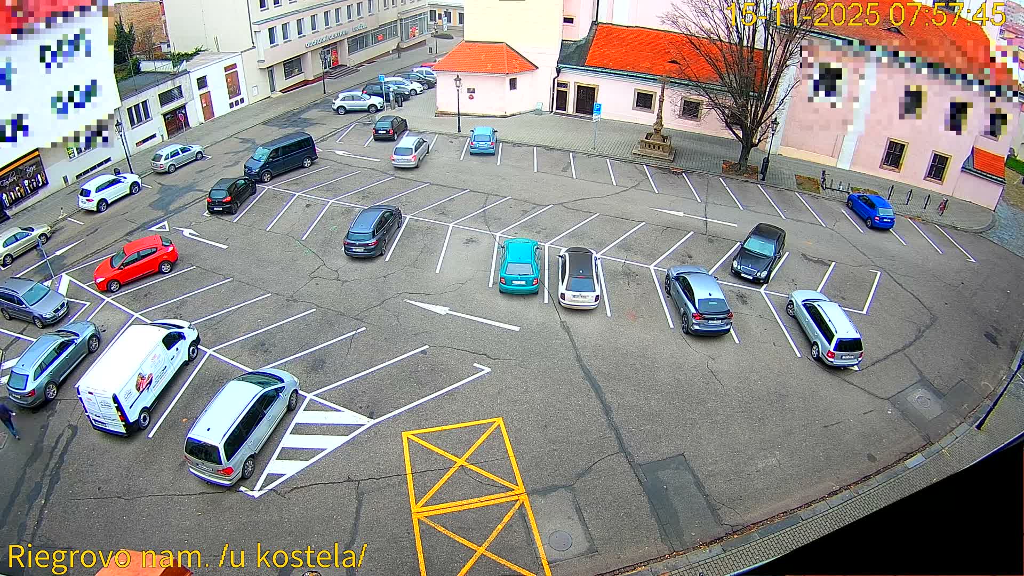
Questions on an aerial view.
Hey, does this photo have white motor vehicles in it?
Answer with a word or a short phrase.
Yes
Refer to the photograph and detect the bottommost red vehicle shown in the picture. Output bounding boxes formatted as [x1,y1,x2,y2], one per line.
[91,236,176,293]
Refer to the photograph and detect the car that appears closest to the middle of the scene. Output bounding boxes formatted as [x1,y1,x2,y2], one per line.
[496,236,545,291]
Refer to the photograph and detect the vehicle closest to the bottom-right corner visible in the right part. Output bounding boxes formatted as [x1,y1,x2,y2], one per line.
[788,293,869,368]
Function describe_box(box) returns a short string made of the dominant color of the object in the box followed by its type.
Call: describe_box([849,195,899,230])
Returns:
blue car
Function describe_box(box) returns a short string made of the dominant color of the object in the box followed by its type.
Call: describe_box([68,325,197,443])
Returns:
white van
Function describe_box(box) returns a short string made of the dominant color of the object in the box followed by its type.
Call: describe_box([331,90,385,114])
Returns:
white car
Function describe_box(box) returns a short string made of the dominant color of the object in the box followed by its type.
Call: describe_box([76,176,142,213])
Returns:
white car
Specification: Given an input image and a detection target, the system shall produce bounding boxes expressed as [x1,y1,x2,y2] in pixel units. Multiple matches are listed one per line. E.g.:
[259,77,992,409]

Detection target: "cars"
[339,206,401,259]
[788,293,869,368]
[667,269,737,335]
[76,176,142,213]
[551,245,604,306]
[0,276,71,328]
[201,178,255,215]
[469,129,498,154]
[0,225,51,265]
[371,114,407,141]
[149,145,205,173]
[331,90,385,114]
[849,195,899,230]
[496,236,545,291]
[179,370,297,490]
[393,73,435,89]
[733,218,786,282]
[366,83,412,100]
[0,324,99,411]
[390,137,429,167]
[423,62,439,70]
[91,236,176,293]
